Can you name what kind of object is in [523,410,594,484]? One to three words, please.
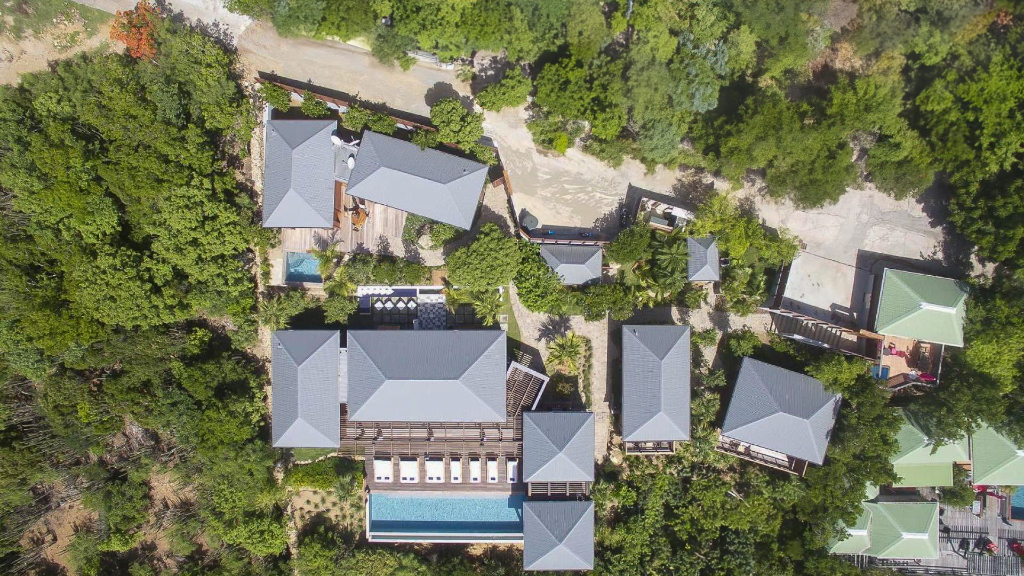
house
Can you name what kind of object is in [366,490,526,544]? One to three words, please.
swimming pool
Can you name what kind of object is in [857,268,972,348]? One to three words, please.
building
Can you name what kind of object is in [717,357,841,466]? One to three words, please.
house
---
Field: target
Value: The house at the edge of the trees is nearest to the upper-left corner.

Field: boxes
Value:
[262,119,341,228]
